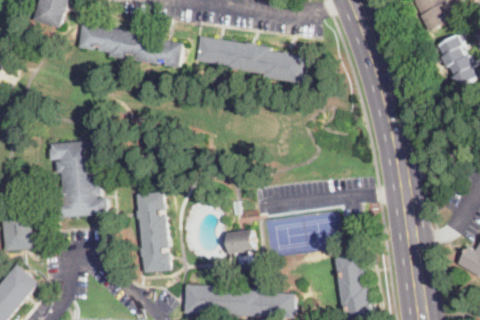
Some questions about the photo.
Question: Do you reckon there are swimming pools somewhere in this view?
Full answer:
Yes, a swimming pool appears in the view.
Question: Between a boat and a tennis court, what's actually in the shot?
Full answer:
Visible in the photo is a tennis court.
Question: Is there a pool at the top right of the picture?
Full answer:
No, I see no pool at the top right of the picture.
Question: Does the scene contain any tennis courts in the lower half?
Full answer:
Yes, I can see a tennis court in the lower half.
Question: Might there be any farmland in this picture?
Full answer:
No, the picture contains no farmland.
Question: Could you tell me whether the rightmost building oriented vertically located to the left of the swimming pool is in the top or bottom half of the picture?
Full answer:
The bottom half of the photo is where the rightmost building oriented vertically located to the left of the swimming pool is.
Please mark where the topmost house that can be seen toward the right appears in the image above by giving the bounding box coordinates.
[418,0,447,32]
